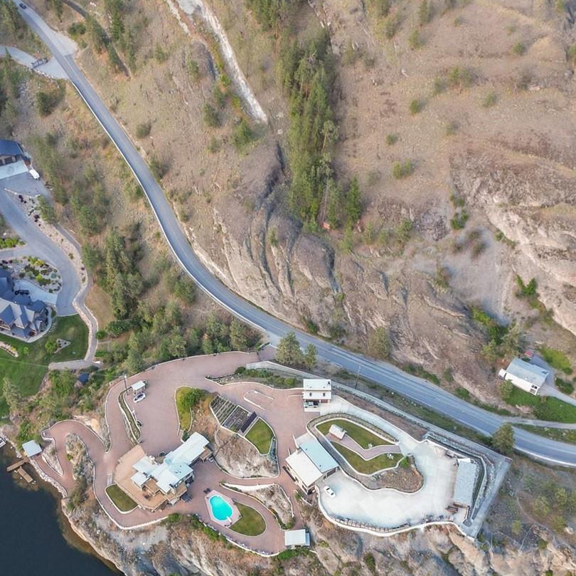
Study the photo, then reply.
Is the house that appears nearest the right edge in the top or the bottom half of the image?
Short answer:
bottom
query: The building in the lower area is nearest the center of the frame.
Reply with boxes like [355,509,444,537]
[304,379,331,399]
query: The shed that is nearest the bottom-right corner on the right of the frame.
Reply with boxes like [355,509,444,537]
[453,458,476,510]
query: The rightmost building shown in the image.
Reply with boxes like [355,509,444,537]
[504,358,549,399]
